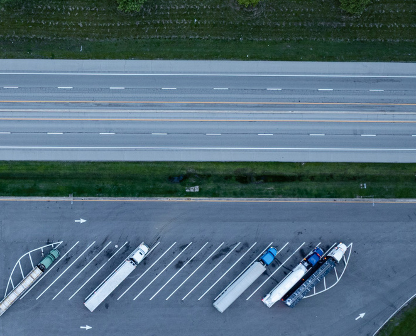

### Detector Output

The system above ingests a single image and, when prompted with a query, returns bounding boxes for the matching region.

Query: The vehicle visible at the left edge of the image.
[0,248,60,316]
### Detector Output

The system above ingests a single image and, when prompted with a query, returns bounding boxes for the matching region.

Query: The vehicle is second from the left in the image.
[84,242,148,311]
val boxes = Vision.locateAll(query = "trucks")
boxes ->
[262,245,323,308]
[282,242,345,308]
[211,246,276,312]
[0,248,60,316]
[84,242,148,311]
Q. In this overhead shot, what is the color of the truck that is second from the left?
white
